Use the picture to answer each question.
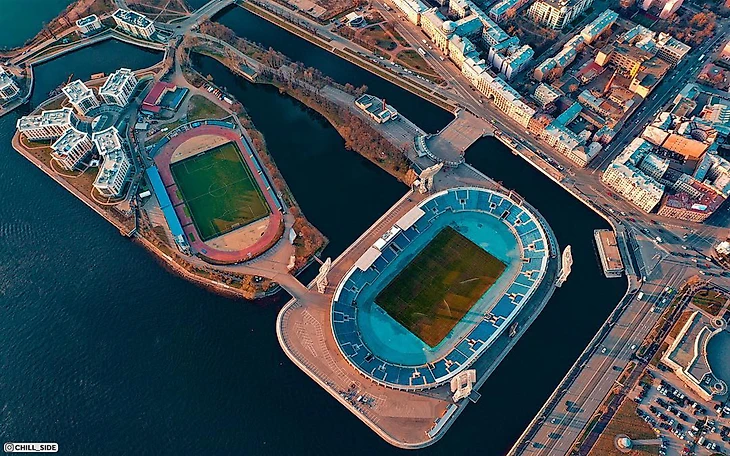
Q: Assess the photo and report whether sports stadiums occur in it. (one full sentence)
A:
Yes, the frame does contain a sports stadium.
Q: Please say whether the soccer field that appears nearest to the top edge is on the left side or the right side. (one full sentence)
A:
The soccer field that appears nearest to the top edge appears in the left half of the scene.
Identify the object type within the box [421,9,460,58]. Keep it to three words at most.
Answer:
building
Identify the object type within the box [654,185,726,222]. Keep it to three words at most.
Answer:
house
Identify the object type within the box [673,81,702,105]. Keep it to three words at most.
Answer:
building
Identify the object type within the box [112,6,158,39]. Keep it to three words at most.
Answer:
house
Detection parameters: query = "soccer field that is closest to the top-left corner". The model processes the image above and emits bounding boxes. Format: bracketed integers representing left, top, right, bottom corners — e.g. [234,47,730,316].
[171,141,271,240]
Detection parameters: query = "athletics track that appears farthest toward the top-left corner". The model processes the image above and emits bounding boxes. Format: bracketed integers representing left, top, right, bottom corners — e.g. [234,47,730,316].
[162,126,281,260]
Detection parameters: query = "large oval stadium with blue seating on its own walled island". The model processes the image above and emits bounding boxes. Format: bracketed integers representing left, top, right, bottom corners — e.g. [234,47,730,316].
[331,187,548,393]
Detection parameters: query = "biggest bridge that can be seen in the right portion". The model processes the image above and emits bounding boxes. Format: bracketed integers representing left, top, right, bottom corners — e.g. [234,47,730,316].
[436,114,494,150]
